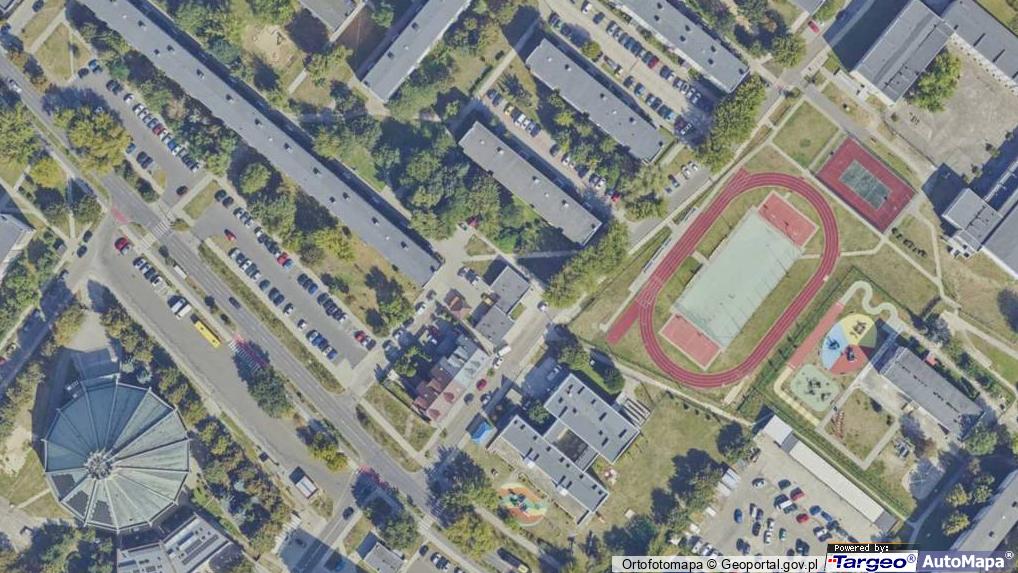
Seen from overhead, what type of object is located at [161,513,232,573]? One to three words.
house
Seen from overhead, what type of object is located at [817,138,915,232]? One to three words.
tennis court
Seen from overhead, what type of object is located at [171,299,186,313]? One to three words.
vehicle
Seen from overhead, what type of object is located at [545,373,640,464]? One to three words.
building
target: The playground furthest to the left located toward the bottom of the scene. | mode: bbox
[498,482,547,525]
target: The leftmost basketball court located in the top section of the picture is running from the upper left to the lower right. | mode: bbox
[756,189,820,249]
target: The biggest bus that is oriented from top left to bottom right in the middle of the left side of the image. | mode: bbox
[193,319,223,349]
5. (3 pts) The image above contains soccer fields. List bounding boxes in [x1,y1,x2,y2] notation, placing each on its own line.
[668,204,807,353]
